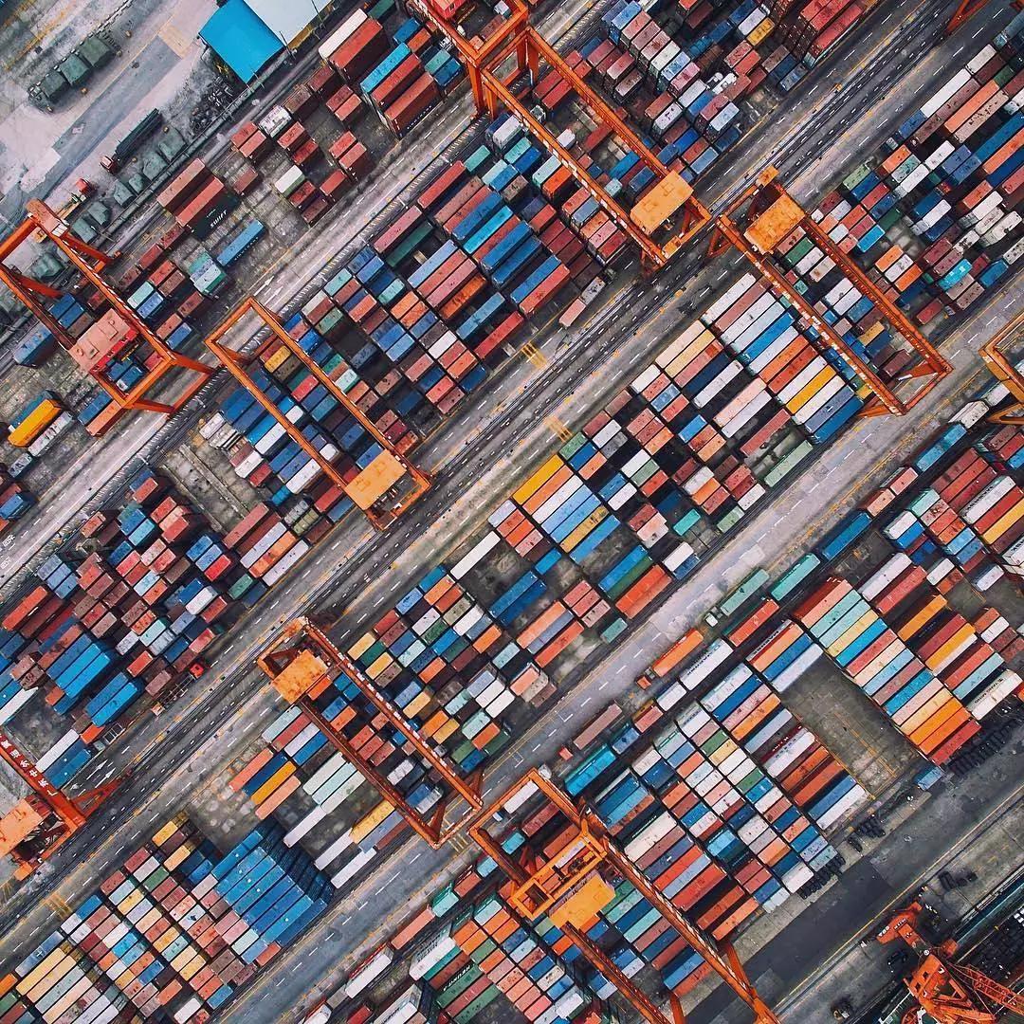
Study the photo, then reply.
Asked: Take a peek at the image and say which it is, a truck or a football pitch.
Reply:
truck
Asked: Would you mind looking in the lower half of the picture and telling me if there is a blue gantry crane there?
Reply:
No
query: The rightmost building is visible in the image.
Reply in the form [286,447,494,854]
[245,0,346,52]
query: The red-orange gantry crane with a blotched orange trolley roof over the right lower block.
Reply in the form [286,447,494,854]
[695,171,956,423]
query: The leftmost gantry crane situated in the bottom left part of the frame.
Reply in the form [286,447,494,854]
[0,706,135,884]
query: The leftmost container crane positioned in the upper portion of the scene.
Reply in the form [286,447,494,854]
[0,193,221,417]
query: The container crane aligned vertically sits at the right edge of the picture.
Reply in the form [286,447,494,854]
[971,305,1024,433]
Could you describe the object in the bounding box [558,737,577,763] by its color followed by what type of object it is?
red vehicle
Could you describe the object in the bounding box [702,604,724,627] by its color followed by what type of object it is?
white truck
